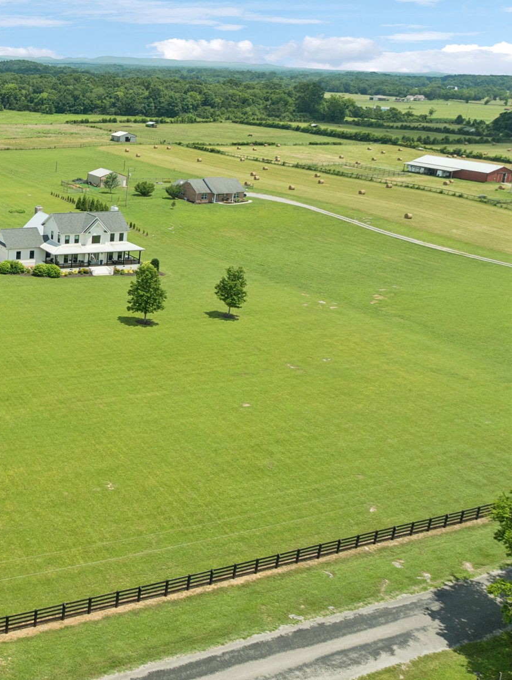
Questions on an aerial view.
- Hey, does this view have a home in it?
Yes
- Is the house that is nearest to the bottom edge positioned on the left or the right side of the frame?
left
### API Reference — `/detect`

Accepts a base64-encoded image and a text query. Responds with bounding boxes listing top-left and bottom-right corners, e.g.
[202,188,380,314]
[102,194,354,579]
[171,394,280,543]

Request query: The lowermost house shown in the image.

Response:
[0,204,145,276]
